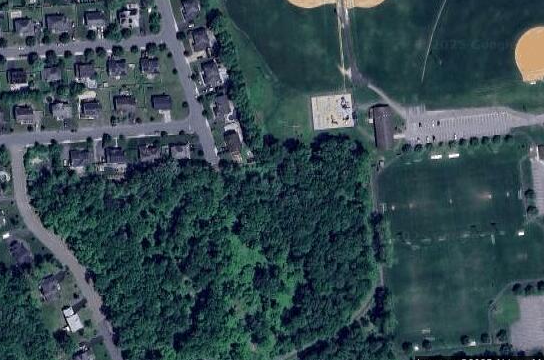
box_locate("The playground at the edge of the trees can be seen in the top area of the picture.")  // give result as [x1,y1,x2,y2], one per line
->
[311,93,355,130]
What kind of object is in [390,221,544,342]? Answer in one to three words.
soccer field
